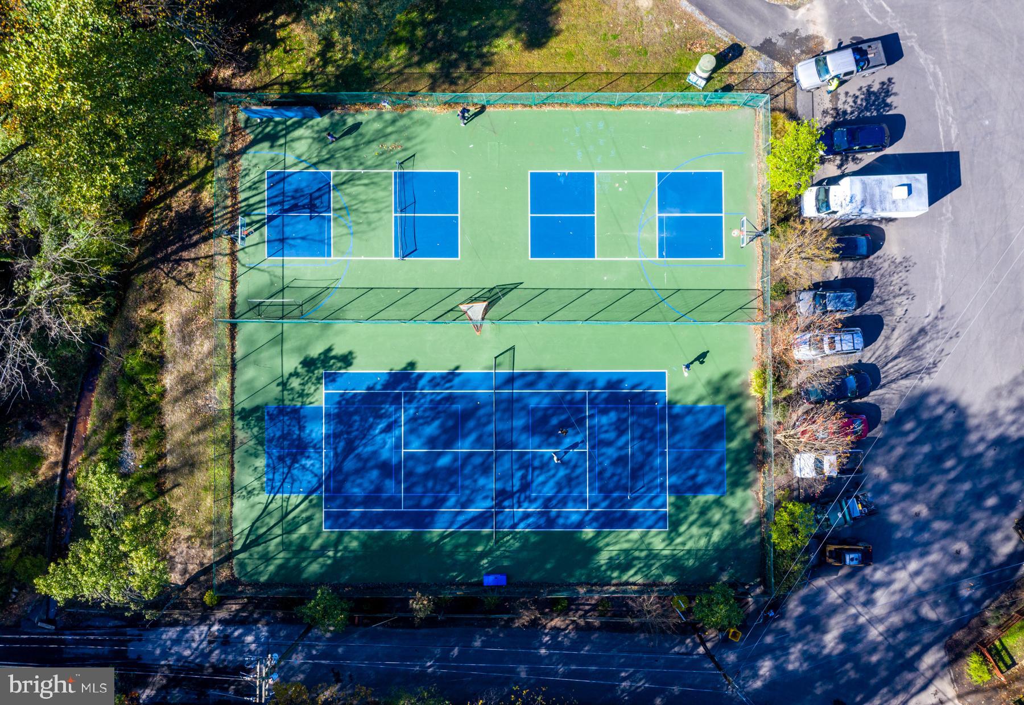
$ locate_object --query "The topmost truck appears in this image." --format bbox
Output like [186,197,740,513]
[791,37,888,91]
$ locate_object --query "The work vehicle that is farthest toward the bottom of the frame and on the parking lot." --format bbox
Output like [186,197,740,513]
[813,540,873,568]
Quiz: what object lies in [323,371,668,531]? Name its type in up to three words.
tennis court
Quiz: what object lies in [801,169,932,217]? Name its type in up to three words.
truck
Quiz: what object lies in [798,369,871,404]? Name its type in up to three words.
car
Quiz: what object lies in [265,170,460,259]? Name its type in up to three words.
sports court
